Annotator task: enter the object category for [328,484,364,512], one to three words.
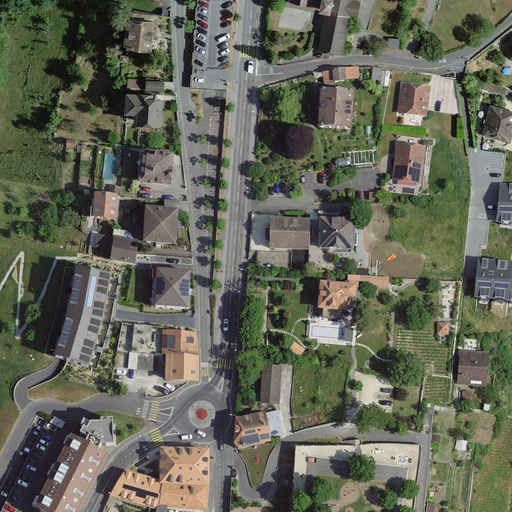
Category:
playground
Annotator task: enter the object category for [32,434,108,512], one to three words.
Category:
building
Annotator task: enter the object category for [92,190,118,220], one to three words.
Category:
house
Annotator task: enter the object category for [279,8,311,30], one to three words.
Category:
sports court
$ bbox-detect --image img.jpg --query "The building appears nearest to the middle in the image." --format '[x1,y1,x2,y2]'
[257,251,290,268]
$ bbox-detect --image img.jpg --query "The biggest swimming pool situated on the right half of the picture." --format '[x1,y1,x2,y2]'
[308,318,356,345]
